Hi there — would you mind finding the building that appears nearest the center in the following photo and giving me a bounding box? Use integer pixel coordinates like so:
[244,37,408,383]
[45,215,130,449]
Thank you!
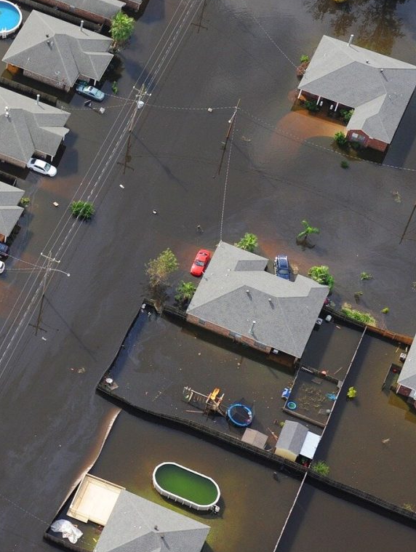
[186,241,330,366]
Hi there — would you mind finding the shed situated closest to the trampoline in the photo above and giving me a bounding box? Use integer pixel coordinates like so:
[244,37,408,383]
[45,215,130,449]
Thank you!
[242,428,267,452]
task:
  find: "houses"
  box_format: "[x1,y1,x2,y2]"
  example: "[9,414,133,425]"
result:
[296,34,416,154]
[393,335,416,409]
[92,488,210,552]
[40,0,143,32]
[186,241,330,366]
[2,9,115,98]
[0,86,70,170]
[0,182,25,243]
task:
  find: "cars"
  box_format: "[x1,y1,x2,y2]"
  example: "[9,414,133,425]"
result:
[0,242,13,259]
[191,250,210,277]
[25,159,58,178]
[275,253,292,279]
[74,85,106,102]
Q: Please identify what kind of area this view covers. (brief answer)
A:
residential area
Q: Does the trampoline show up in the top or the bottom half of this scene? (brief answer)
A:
bottom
